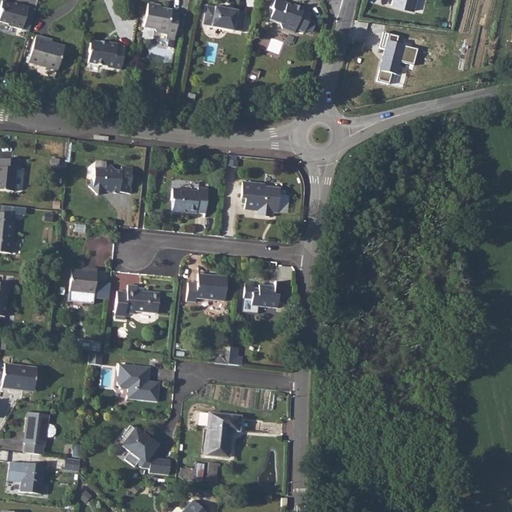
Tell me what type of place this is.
residential area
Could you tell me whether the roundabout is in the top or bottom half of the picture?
top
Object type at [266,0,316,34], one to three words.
house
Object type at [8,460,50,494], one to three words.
house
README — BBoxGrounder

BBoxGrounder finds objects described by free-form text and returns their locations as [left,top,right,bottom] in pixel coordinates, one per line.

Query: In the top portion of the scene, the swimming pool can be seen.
[205,42,218,64]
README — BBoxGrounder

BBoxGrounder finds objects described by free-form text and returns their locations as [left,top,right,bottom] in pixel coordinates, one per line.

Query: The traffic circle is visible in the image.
[292,108,348,162]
